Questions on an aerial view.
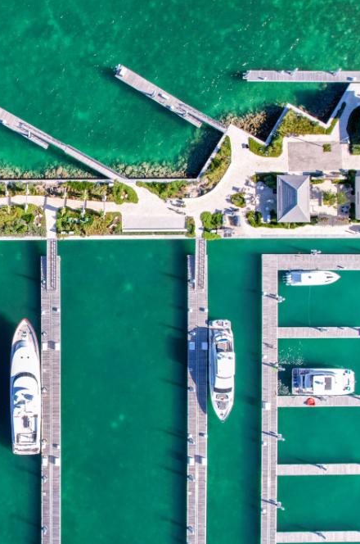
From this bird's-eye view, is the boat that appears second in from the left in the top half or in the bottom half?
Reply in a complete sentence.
It is in the bottom half that the boat that appears second in from the left appears.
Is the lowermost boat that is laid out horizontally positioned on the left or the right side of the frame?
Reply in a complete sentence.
It is on the right.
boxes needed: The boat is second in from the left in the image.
[205,319,236,422]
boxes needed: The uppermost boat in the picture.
[281,270,342,286]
